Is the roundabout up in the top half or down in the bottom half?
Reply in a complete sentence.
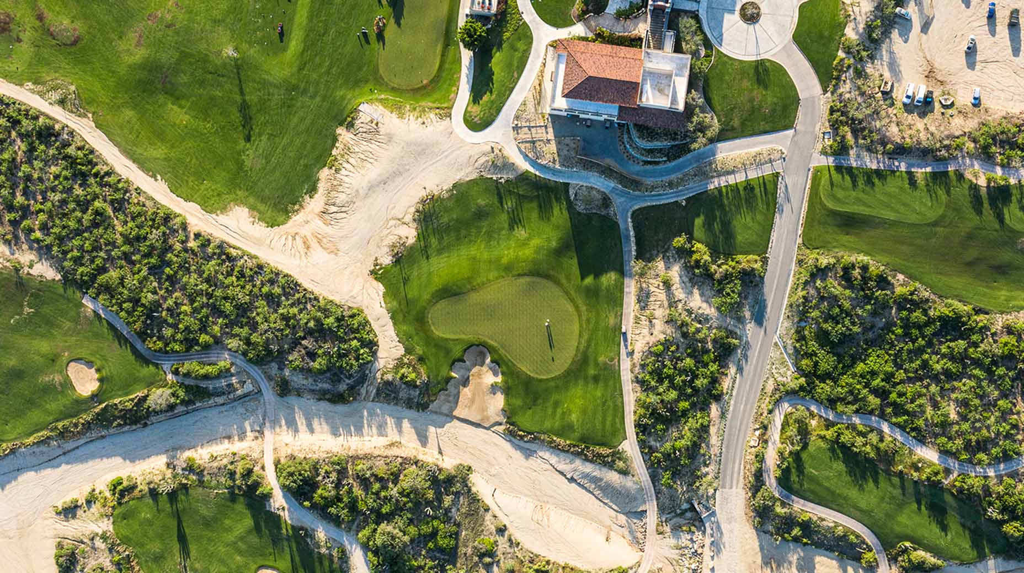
The roundabout is in the top half of the image.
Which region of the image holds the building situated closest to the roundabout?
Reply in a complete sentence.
The building situated closest to the roundabout is in the top part of the image.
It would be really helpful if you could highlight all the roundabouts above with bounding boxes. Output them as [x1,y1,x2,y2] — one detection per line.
[700,0,800,60]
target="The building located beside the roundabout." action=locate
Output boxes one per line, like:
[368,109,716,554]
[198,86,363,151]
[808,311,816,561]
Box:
[540,4,691,129]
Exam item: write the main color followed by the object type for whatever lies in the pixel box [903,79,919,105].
white vehicle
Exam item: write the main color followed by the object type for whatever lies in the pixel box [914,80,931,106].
white vehicle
